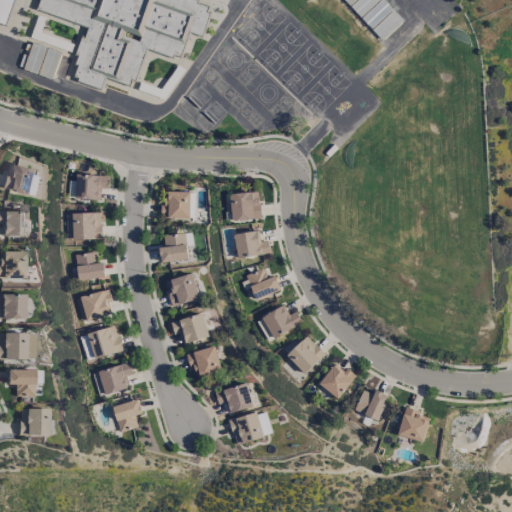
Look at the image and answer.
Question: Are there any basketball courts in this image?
Yes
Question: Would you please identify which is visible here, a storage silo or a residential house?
residential house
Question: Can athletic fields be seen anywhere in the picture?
Yes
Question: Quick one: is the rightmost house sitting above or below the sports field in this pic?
below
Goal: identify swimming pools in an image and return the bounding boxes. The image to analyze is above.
[224,228,237,258]
[99,400,112,426]
[396,449,418,462]
[198,191,206,208]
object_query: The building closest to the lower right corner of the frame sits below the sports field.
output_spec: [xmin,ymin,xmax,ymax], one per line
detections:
[399,403,430,440]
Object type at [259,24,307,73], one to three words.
basketball court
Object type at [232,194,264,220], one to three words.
house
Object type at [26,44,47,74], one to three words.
building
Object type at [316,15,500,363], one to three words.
sports field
